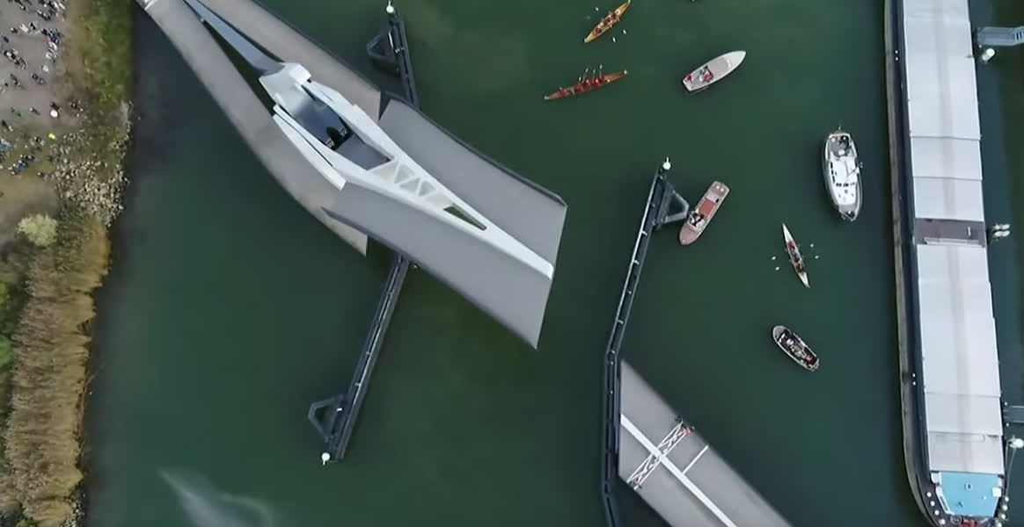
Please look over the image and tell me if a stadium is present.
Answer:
No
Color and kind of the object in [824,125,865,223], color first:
white boat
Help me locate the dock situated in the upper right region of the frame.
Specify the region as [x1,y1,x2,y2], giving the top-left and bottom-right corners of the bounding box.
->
[974,24,1024,54]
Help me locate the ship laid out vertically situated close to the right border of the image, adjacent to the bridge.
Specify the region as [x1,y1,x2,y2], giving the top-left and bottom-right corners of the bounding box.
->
[884,0,1008,527]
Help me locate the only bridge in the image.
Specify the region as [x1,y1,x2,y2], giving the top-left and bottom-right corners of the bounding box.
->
[136,0,792,527]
